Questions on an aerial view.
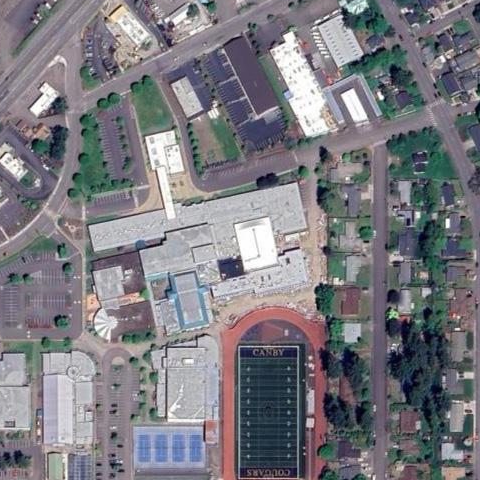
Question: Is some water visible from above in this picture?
No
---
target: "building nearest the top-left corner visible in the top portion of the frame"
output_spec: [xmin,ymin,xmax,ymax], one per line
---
[30,81,59,116]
